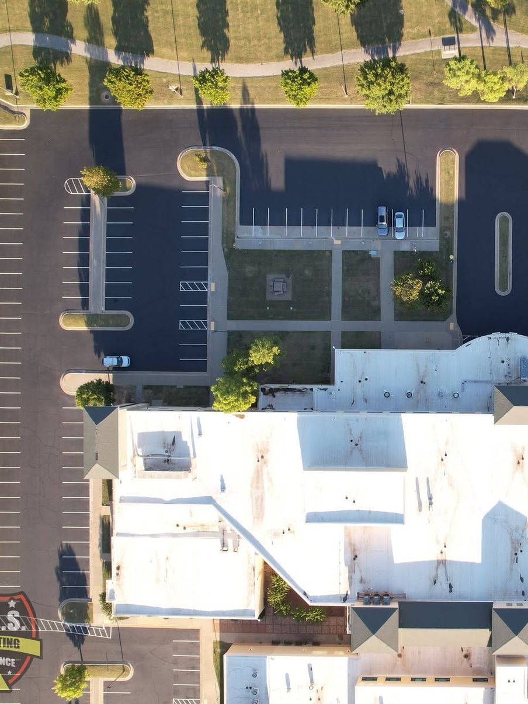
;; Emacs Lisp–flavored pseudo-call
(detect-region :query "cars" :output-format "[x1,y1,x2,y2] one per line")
[102,355,131,368]
[394,211,406,239]
[377,208,388,235]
